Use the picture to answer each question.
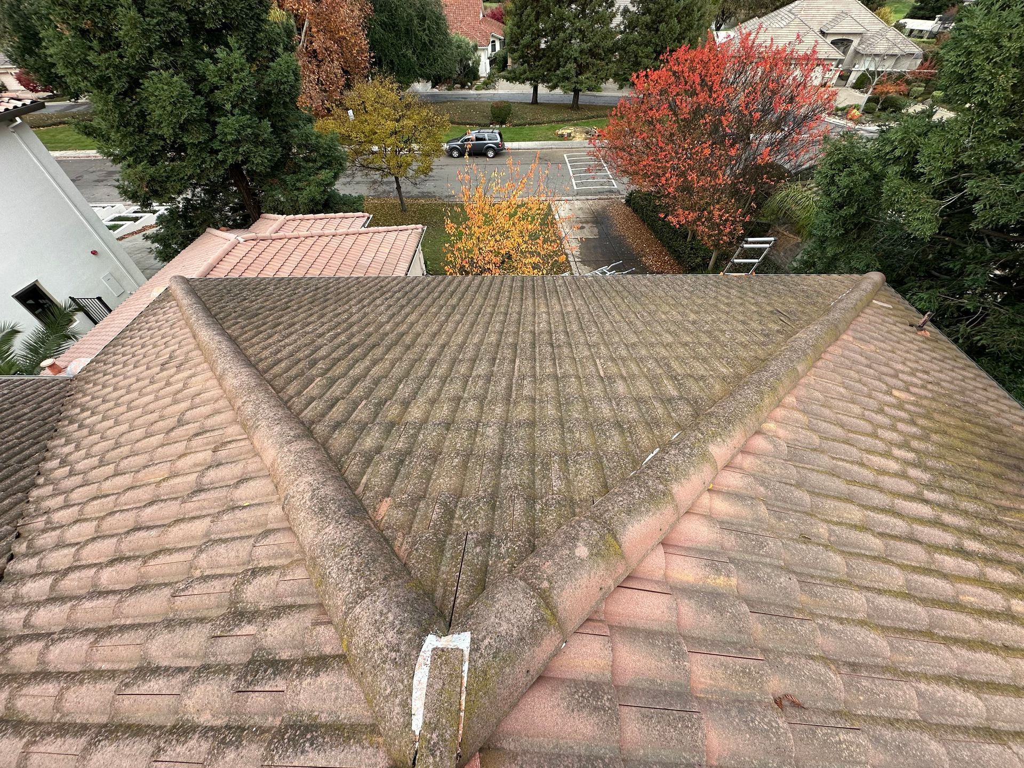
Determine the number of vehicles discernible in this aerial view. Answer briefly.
1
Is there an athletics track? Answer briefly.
No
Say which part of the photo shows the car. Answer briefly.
top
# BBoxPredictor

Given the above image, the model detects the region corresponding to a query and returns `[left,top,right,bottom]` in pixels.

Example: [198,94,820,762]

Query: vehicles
[442,124,506,156]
